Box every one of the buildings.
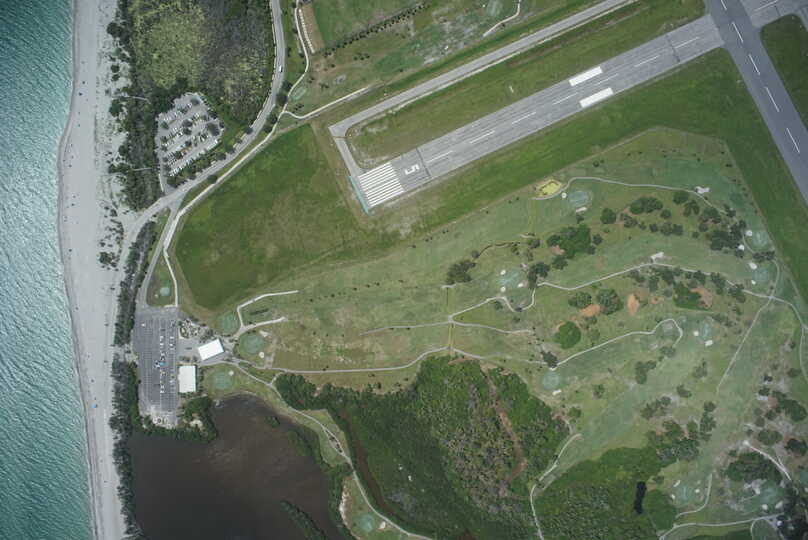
[178,366,196,392]
[198,339,223,360]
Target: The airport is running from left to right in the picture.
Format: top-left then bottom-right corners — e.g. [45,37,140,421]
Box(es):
[329,0,808,214]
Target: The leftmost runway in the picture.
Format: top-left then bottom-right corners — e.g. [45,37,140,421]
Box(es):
[347,15,724,214]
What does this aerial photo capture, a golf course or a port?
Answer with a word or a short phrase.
golf course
